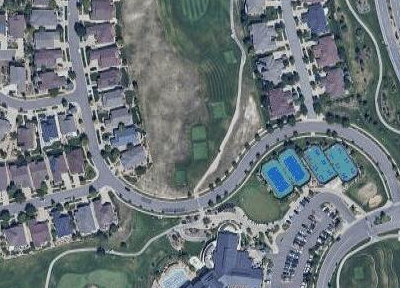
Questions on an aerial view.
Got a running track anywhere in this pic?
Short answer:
No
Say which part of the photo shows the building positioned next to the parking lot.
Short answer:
bottom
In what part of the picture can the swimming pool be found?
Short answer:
bottom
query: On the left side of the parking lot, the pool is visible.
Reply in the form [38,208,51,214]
[151,262,197,288]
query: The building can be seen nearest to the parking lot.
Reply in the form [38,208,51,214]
[180,222,263,288]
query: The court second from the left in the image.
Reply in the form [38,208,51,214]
[278,149,310,186]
